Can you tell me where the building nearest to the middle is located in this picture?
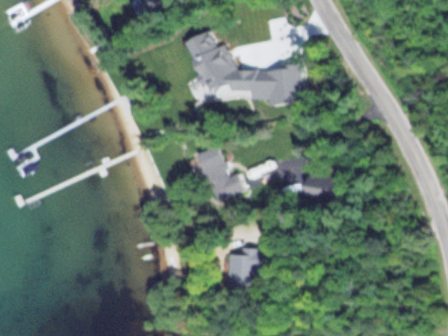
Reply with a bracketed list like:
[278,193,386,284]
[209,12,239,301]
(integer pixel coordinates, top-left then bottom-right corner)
[196,148,245,198]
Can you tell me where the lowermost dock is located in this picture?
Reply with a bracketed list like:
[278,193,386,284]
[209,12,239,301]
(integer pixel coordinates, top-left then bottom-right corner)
[14,146,140,208]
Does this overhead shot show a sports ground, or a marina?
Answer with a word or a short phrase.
marina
